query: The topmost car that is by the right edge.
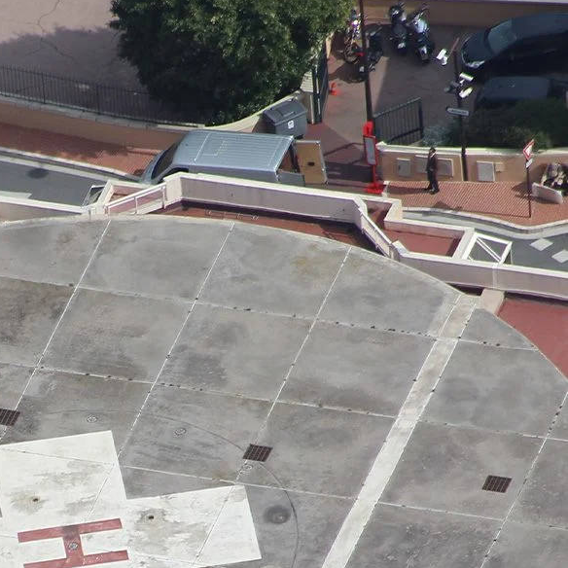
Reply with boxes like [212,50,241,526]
[459,4,568,86]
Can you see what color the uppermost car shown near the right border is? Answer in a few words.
black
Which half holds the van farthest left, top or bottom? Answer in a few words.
top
